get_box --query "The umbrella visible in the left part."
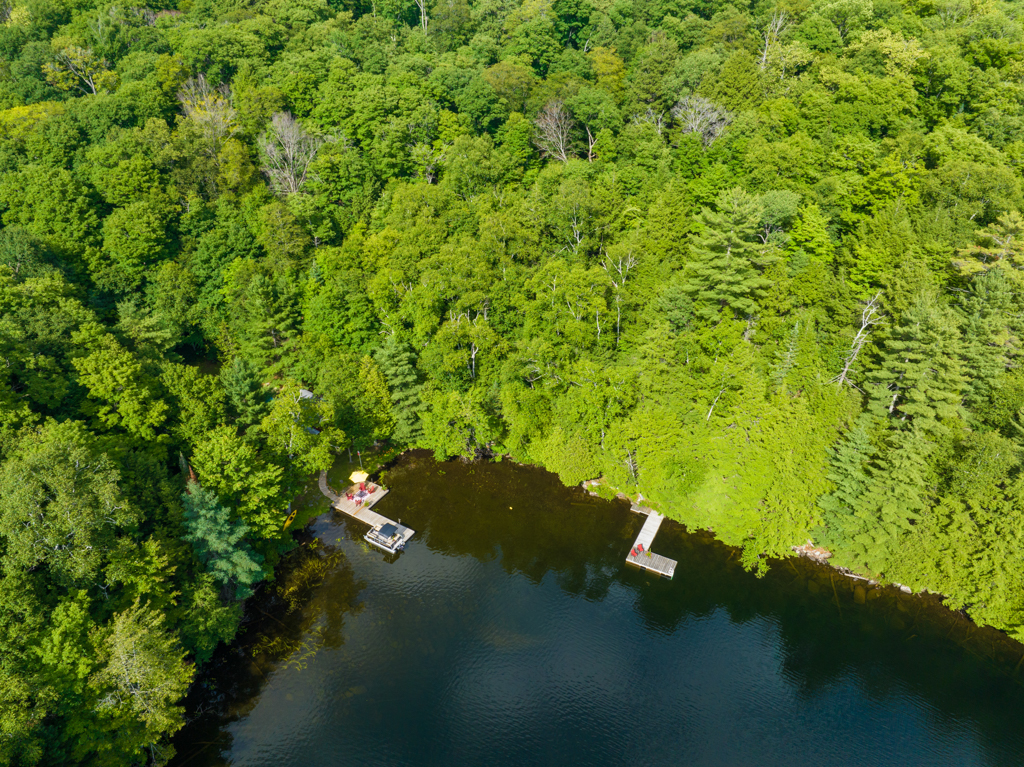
[349,471,368,488]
